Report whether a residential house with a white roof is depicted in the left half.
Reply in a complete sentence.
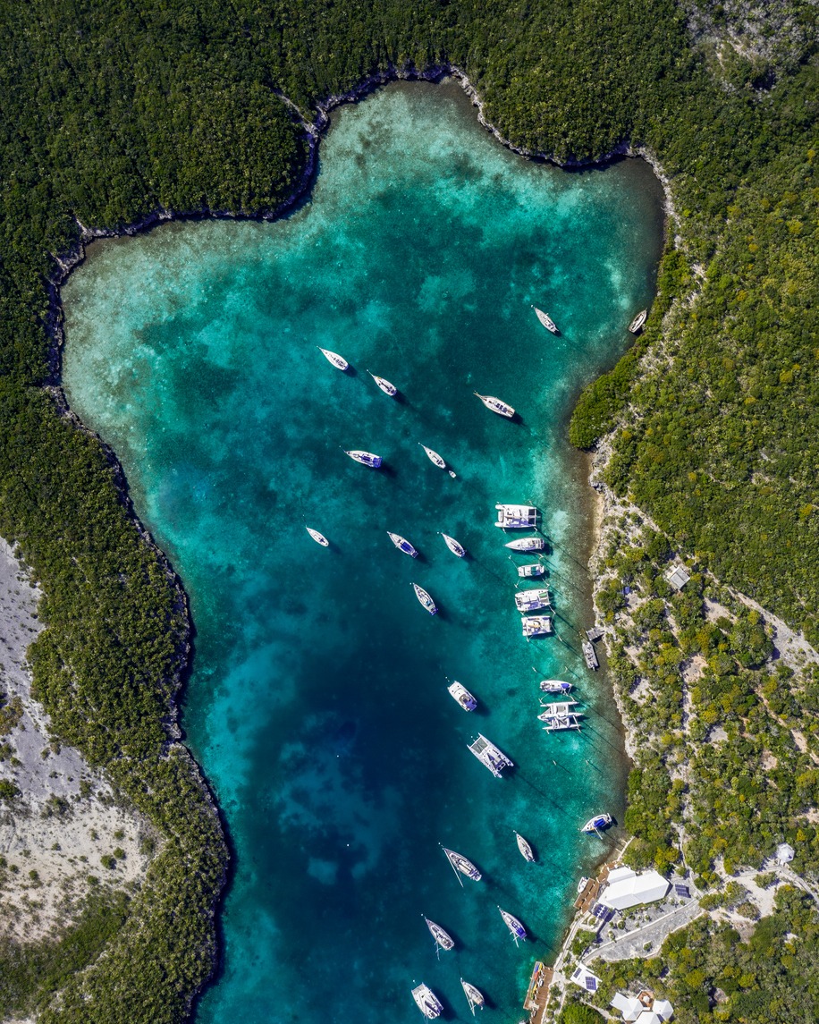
No, no residential house with a white roof appears in the left half.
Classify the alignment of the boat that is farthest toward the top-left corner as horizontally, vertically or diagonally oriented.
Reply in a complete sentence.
What the image shows is the boat that is farthest toward the top-left corner lying diagonally.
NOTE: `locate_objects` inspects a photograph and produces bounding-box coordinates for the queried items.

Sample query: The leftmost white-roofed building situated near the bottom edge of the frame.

[570,960,602,992]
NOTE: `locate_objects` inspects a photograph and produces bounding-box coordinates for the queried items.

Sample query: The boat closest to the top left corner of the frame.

[318,347,350,371]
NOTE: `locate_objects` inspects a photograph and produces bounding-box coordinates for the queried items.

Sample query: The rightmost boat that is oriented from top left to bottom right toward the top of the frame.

[532,305,559,335]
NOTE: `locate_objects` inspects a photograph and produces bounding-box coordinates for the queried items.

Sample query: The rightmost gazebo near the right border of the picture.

[777,846,796,865]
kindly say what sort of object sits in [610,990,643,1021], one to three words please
building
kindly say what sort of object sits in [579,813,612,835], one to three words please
boat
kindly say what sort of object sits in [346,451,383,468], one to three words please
boat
